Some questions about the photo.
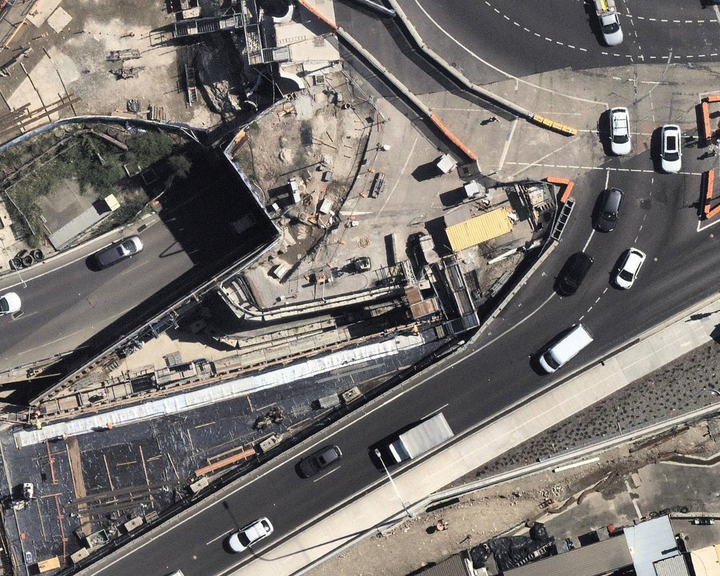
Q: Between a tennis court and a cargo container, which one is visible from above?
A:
cargo container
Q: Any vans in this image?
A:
Yes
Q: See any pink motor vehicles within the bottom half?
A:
No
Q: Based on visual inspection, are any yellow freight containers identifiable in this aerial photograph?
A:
Yes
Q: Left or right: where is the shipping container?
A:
right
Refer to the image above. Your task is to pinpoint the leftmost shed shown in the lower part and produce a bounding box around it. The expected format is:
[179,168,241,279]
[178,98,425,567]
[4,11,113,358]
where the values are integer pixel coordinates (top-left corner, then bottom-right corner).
[419,551,475,576]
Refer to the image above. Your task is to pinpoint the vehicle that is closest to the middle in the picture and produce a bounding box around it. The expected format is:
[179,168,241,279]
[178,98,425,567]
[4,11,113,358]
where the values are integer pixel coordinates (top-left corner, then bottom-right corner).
[341,253,375,274]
